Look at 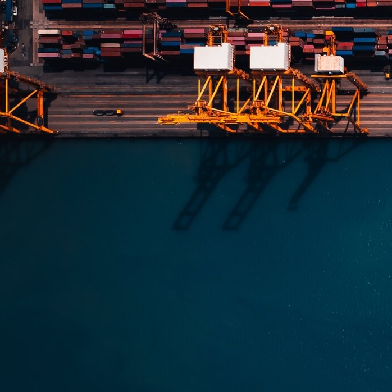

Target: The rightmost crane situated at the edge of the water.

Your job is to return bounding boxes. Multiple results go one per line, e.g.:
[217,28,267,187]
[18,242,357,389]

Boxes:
[301,43,372,134]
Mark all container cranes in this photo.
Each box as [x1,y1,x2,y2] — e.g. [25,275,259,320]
[301,43,372,134]
[151,32,267,135]
[220,31,319,135]
[140,9,177,66]
[0,53,59,136]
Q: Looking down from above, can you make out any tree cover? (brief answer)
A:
No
